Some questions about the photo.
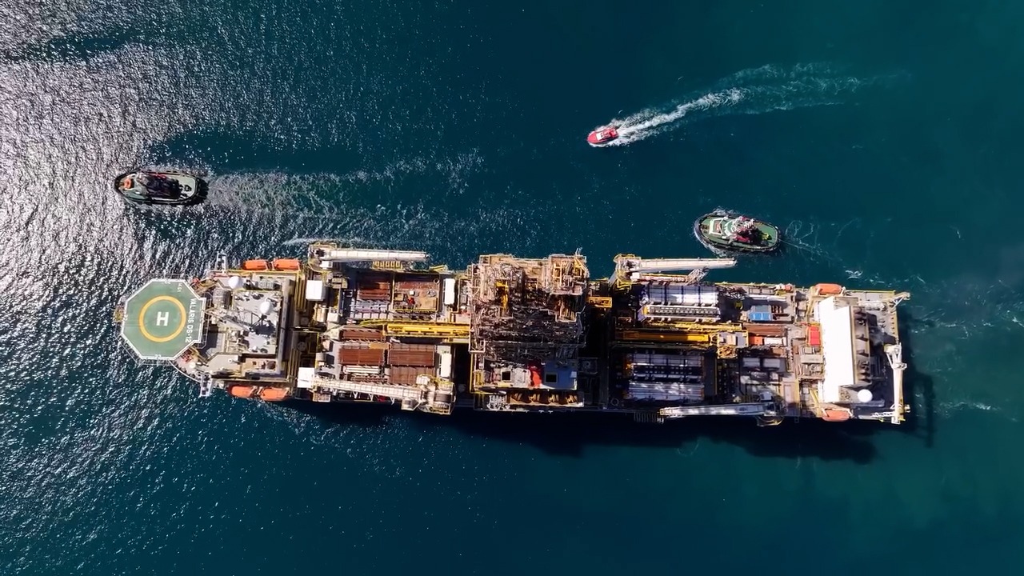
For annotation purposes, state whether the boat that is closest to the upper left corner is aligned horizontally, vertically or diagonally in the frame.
horizontally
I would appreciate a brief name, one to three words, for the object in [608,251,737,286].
crane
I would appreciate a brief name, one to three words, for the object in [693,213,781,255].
boat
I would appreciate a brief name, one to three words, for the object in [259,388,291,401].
boat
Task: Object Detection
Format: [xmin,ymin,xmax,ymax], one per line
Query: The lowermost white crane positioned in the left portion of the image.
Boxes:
[312,373,457,413]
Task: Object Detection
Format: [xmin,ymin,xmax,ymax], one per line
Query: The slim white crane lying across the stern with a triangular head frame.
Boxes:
[872,336,911,423]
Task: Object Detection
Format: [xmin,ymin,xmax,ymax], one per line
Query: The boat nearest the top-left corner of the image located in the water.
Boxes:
[113,169,207,207]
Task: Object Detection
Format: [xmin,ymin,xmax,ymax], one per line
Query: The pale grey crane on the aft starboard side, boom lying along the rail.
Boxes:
[655,391,798,427]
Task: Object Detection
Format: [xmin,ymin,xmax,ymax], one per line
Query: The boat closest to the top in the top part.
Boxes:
[589,126,619,144]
